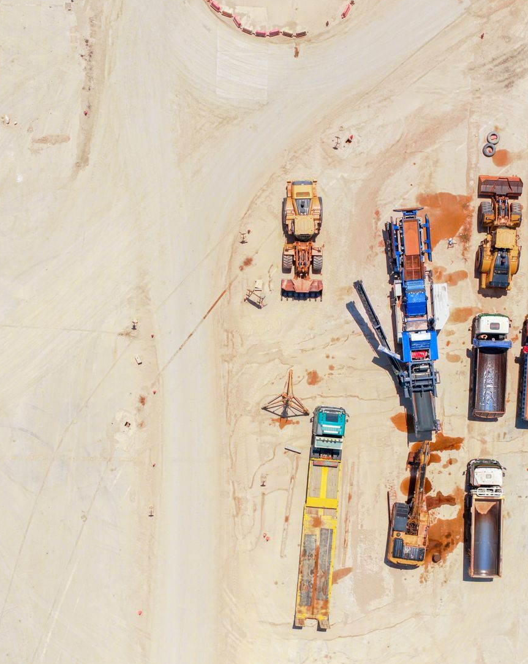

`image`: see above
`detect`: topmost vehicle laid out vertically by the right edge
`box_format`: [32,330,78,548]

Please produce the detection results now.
[480,178,525,291]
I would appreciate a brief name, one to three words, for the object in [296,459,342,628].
trailer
